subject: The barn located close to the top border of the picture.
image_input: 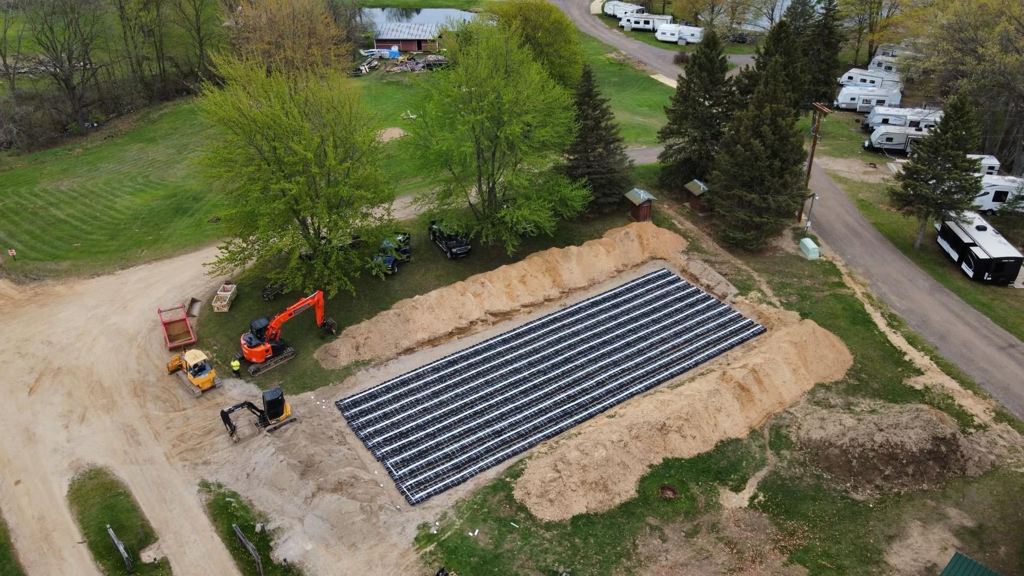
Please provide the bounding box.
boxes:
[372,21,444,53]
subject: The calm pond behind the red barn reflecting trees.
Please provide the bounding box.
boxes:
[361,9,495,48]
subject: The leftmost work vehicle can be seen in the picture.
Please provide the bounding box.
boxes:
[163,341,220,395]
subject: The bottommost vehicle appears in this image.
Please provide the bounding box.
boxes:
[217,389,299,441]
